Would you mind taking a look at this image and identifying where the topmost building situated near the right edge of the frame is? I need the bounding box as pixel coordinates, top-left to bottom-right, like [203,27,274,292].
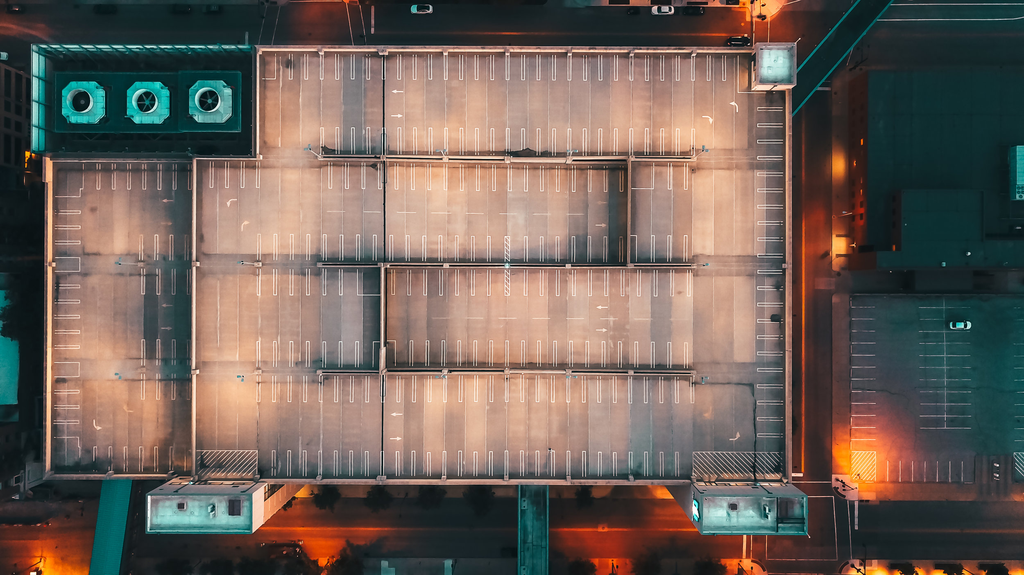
[831,70,1024,270]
